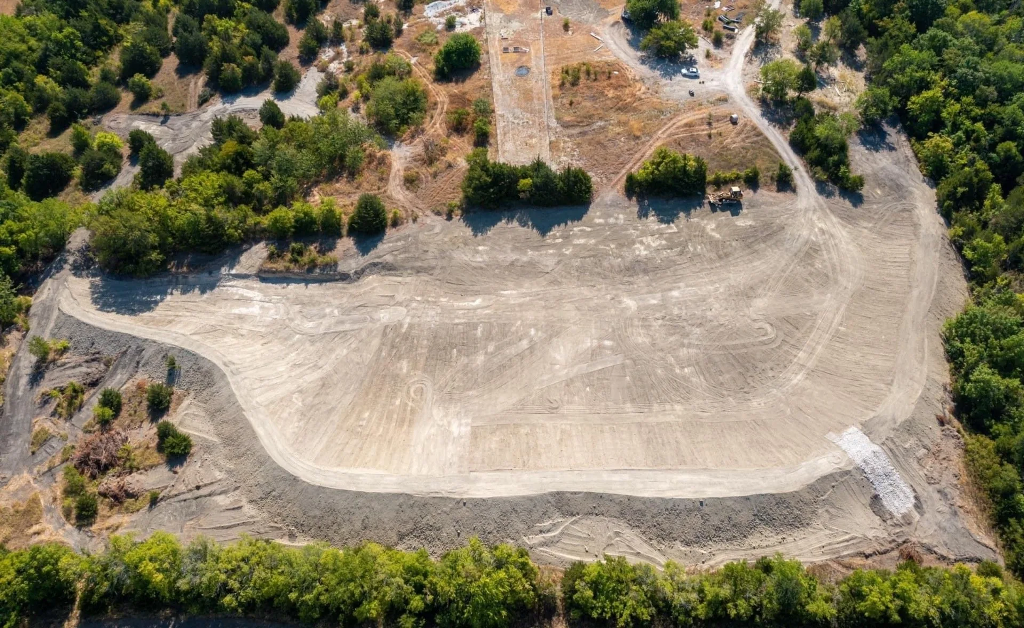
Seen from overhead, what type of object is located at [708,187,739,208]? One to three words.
work vehicle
